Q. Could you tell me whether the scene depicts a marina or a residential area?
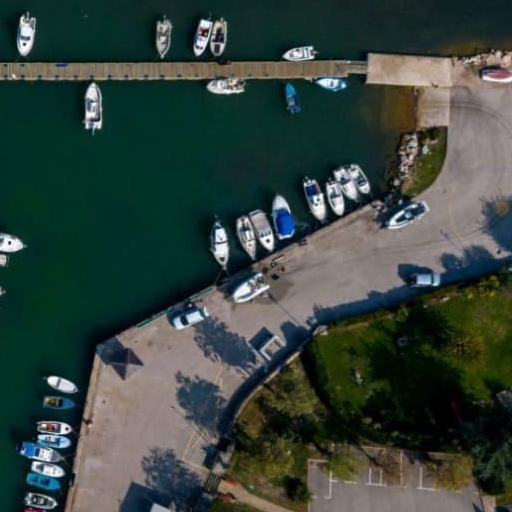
marina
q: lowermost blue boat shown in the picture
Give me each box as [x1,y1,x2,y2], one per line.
[25,472,61,490]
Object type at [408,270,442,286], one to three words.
vehicle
